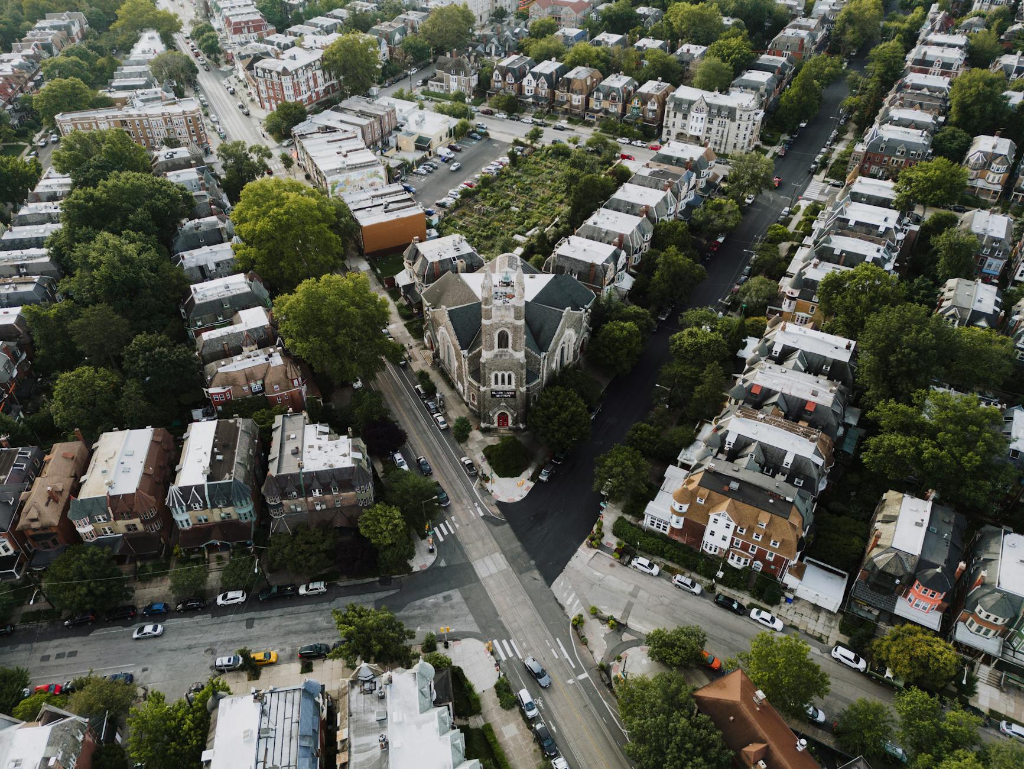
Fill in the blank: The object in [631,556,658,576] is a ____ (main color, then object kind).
white car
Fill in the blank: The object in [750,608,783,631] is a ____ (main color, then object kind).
white car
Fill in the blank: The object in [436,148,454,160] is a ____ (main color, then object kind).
white vehicle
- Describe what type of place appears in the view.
residential area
